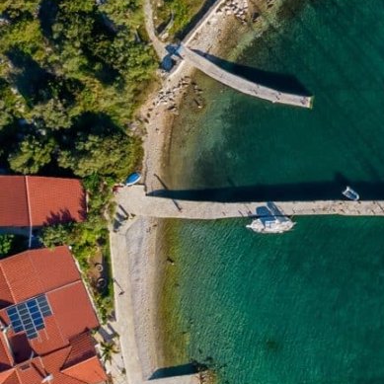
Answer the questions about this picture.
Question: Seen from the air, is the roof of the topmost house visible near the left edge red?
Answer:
Yes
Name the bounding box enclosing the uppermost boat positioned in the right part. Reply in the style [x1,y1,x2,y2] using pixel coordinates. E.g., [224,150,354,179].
[342,184,358,196]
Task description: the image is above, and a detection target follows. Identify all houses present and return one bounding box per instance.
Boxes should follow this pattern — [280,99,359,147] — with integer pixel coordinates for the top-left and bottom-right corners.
[0,245,112,384]
[0,175,90,228]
